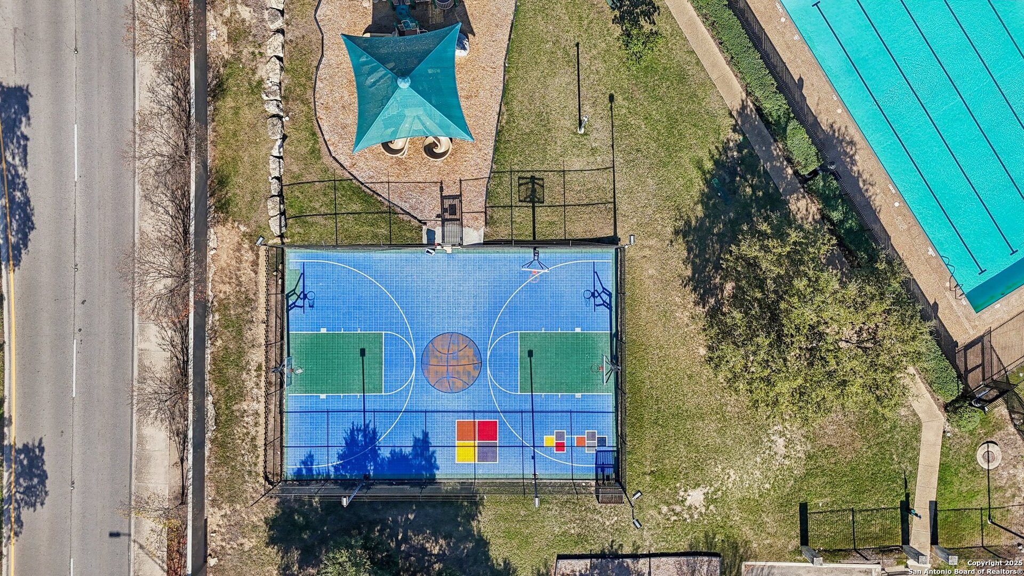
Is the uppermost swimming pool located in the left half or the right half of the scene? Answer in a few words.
right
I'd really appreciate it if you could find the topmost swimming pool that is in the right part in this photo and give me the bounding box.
[774,0,1024,321]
